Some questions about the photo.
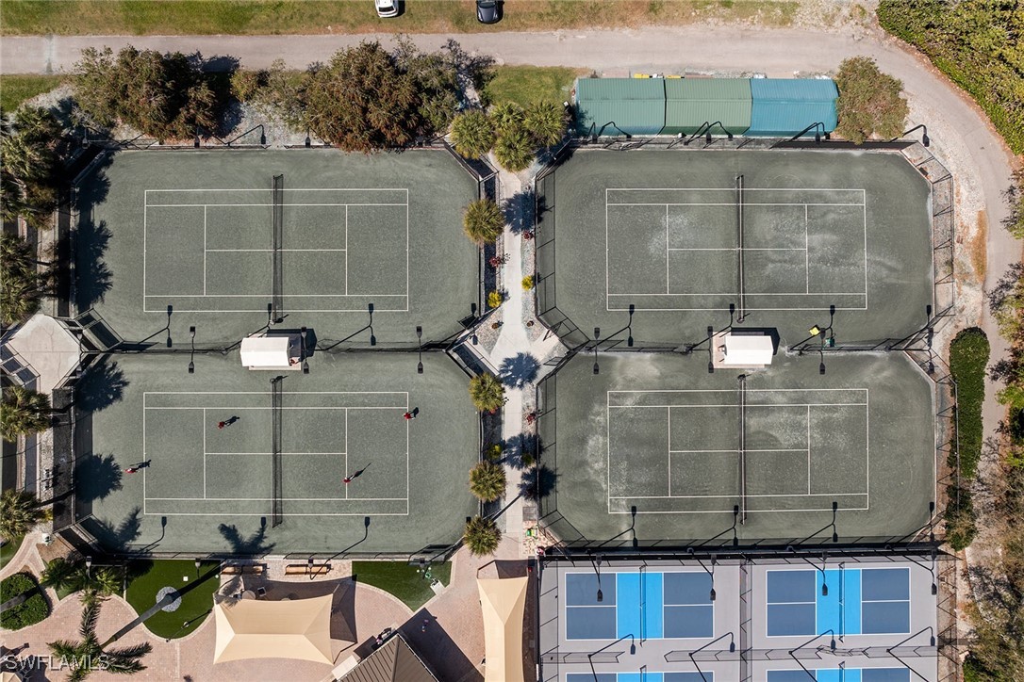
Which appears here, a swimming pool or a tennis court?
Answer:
tennis court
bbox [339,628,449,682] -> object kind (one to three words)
building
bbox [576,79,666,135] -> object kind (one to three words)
shed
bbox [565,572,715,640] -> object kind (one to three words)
sports court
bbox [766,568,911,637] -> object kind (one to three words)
sports court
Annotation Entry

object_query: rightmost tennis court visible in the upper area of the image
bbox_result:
[537,147,937,350]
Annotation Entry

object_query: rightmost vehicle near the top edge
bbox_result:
[477,0,502,24]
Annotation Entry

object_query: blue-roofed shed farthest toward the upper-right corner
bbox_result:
[742,79,842,135]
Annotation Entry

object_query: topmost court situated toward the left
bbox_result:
[72,147,480,352]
